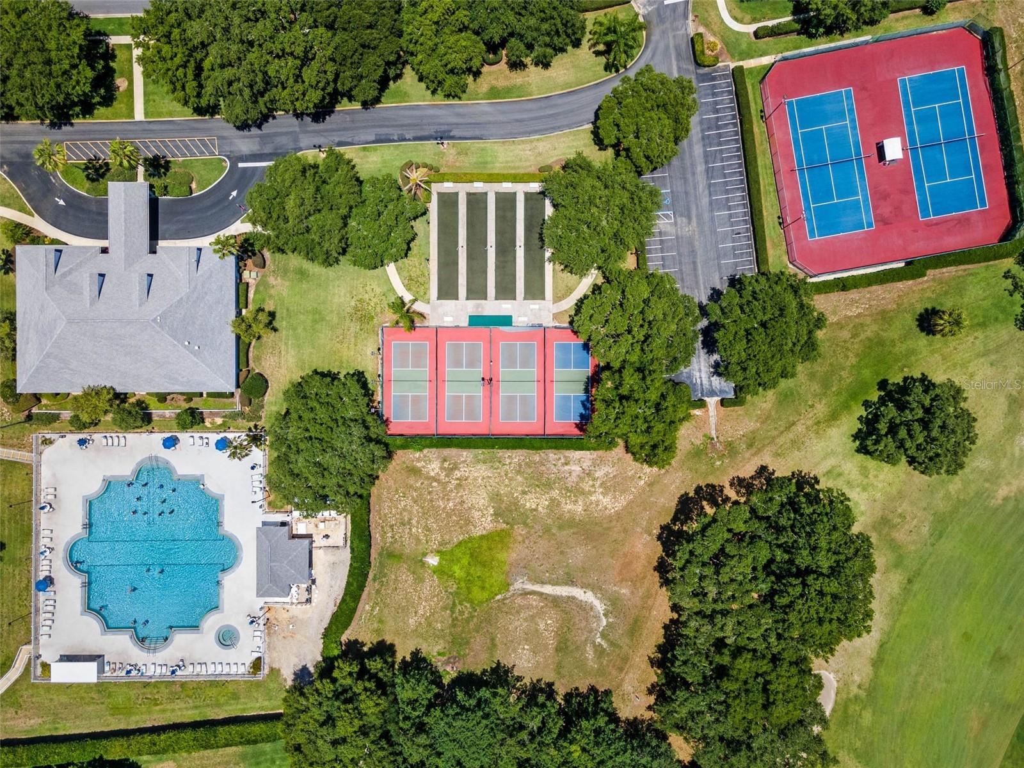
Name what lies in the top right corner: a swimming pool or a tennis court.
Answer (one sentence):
It is a tennis court that can be seen in the top right corner.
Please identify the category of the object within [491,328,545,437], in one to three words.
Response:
sports court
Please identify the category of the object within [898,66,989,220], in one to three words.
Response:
tennis court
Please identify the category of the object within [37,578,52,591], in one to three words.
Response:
umbrella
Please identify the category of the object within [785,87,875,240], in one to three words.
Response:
tennis court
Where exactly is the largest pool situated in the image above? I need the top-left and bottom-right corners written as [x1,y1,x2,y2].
[62,455,243,657]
